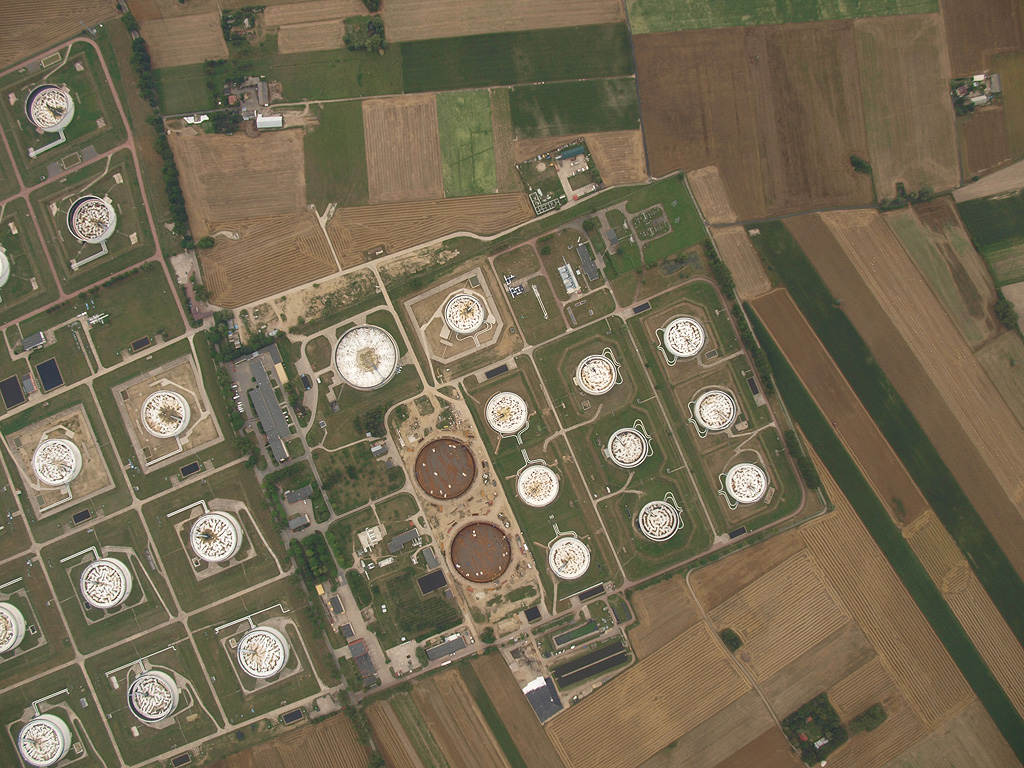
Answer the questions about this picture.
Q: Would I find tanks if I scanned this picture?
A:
Yes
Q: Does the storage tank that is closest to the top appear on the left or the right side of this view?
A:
left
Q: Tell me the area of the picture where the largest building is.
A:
left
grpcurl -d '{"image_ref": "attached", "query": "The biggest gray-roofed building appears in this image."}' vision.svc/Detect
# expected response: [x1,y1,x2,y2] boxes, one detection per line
[249,360,292,461]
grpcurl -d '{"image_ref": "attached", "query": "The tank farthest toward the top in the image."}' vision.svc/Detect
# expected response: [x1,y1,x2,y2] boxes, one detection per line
[25,84,75,132]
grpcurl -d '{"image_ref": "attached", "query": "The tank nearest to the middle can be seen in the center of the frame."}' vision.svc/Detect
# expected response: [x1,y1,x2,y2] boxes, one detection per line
[487,391,529,433]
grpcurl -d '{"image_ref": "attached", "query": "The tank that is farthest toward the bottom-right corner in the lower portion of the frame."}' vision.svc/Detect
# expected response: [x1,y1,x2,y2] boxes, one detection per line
[724,462,767,503]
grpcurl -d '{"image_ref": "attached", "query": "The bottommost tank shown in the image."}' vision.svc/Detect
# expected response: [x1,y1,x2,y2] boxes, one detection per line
[16,715,70,767]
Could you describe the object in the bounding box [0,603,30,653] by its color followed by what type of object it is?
white storage tank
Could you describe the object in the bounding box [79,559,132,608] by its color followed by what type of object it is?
white storage tank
